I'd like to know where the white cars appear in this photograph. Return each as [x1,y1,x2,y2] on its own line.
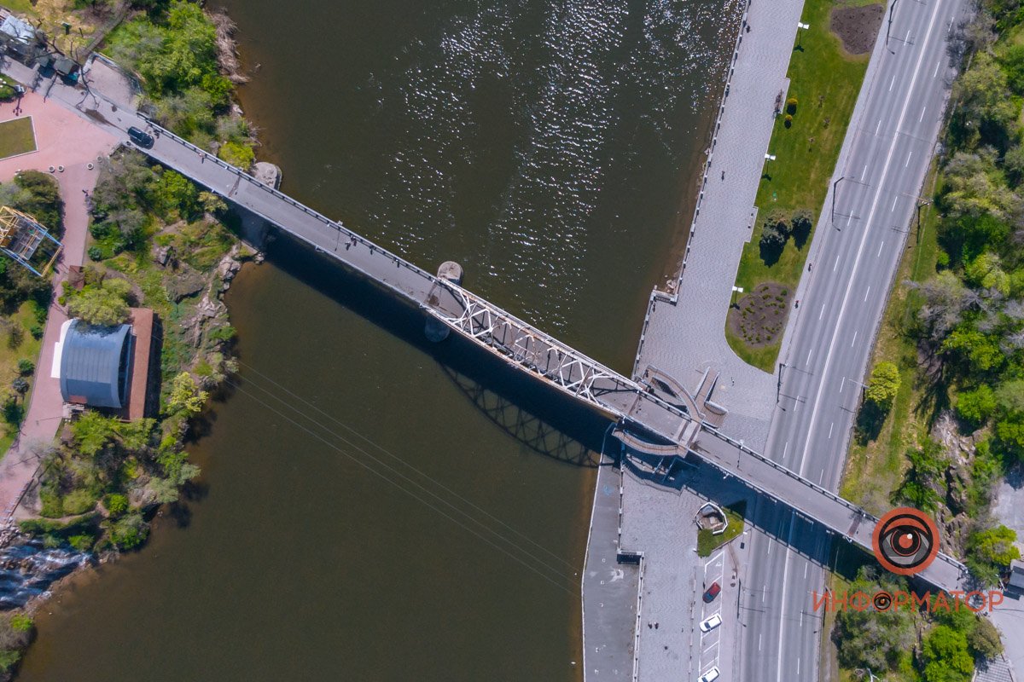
[697,614,723,631]
[696,665,720,682]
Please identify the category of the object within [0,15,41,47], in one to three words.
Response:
building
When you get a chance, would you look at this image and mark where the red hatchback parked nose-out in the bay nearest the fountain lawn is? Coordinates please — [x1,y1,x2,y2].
[702,580,722,602]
